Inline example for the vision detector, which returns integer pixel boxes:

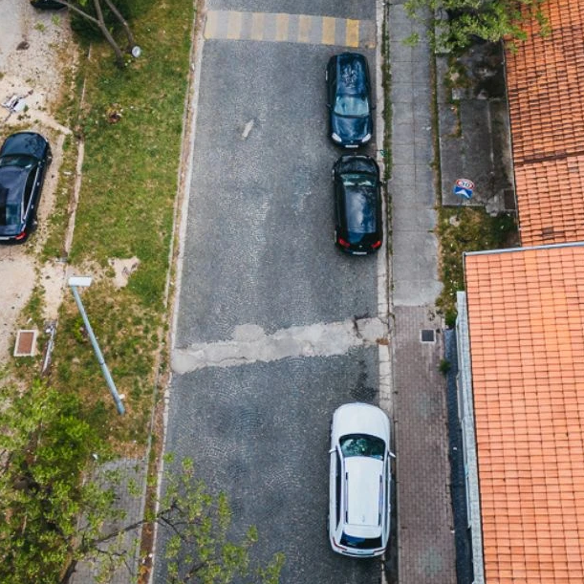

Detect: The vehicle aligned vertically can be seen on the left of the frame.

[0,129,50,246]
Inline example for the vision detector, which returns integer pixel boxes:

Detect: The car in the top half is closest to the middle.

[328,150,389,258]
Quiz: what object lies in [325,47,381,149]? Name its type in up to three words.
car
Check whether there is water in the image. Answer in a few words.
No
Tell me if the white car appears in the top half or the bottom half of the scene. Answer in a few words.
bottom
